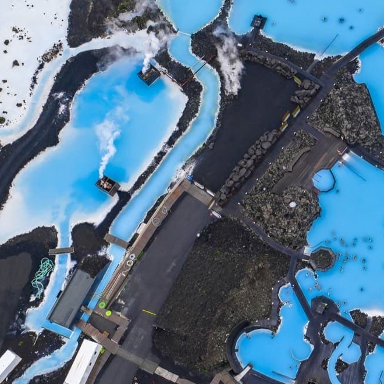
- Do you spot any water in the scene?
Yes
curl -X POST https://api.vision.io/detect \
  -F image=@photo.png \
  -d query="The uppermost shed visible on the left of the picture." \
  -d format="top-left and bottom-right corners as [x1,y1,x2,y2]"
[47,268,99,331]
